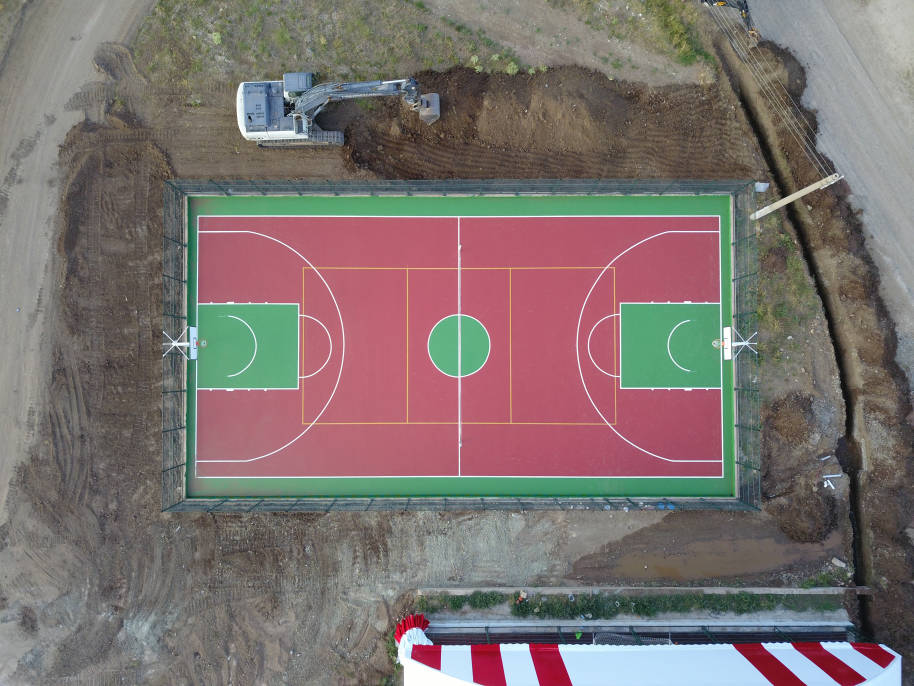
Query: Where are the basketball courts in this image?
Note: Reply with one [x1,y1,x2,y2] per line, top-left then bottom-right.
[179,190,744,502]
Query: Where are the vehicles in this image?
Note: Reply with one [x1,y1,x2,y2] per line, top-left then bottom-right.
[240,75,447,149]
[691,0,761,45]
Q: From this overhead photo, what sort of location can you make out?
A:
sports ground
